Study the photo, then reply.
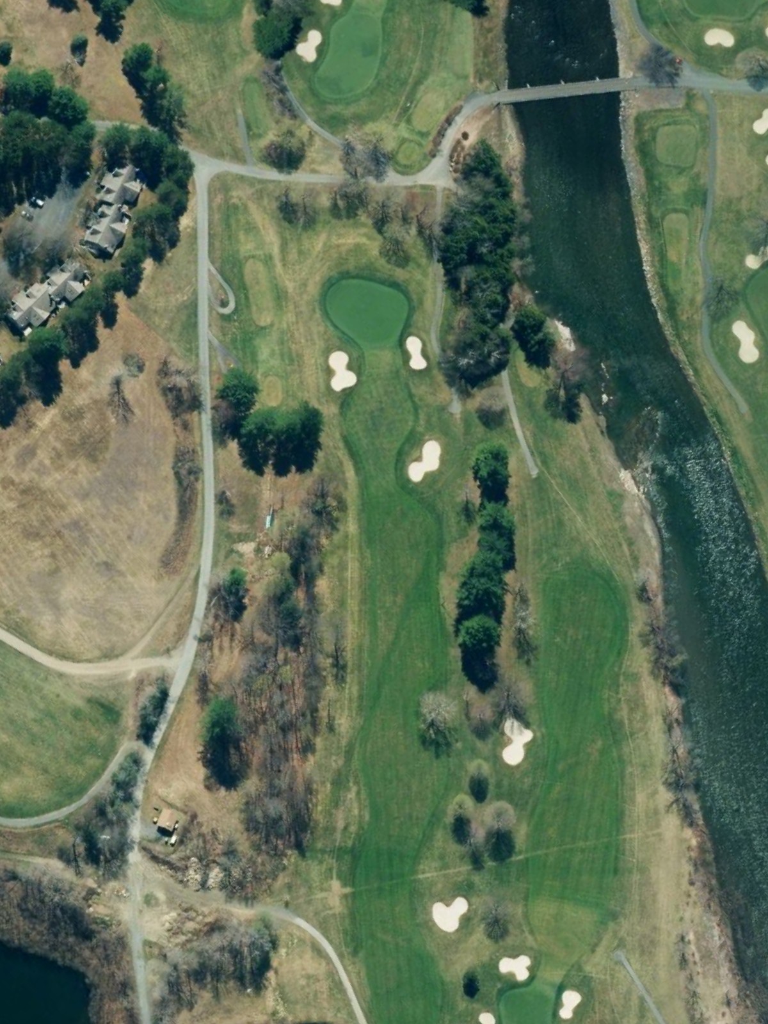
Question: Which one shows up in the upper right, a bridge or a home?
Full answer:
You can see a bridge in the upper right.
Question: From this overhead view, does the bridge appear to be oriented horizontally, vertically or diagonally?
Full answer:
What the image shows is the bridge lying horizontally.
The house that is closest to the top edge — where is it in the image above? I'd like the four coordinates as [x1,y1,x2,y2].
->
[97,158,142,207]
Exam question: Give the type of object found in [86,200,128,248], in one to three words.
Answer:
house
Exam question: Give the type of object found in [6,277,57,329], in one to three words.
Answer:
house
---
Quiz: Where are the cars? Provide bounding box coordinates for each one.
[30,196,44,207]
[19,209,33,221]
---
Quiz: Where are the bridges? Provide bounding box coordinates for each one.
[490,70,639,111]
